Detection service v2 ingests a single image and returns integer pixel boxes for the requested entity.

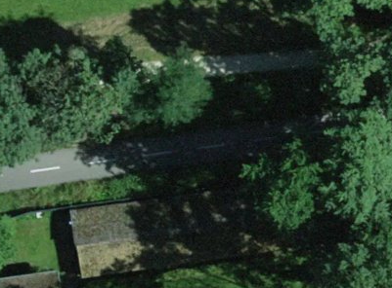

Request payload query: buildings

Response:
[70,188,284,282]
[0,271,61,288]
